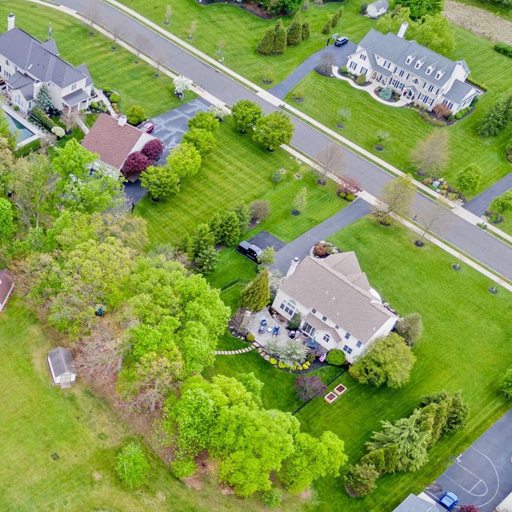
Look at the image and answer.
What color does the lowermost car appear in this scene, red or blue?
blue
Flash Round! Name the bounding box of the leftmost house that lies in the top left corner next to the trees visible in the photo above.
[0,9,103,118]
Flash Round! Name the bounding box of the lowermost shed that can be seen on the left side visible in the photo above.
[45,346,76,389]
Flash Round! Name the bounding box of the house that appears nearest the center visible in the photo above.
[272,251,403,363]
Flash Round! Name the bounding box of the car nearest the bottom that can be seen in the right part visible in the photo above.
[437,487,464,509]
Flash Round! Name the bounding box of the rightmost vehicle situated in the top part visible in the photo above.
[334,33,351,47]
